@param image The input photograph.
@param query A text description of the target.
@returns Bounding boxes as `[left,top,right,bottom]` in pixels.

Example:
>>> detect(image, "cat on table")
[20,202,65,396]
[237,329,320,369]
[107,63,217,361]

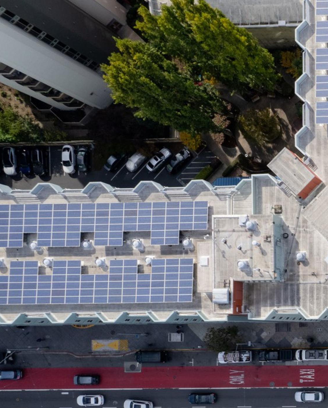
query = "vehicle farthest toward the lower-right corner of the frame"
[295,390,325,404]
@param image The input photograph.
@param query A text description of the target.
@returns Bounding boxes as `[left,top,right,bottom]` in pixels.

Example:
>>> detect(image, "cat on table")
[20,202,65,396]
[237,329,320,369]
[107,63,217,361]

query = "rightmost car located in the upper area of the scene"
[167,149,192,173]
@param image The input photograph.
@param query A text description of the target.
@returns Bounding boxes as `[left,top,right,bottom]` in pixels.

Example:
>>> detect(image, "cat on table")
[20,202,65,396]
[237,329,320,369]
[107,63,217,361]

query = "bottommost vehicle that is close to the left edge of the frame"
[0,369,24,382]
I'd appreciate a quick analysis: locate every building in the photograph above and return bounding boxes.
[0,0,127,123]
[0,0,328,331]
